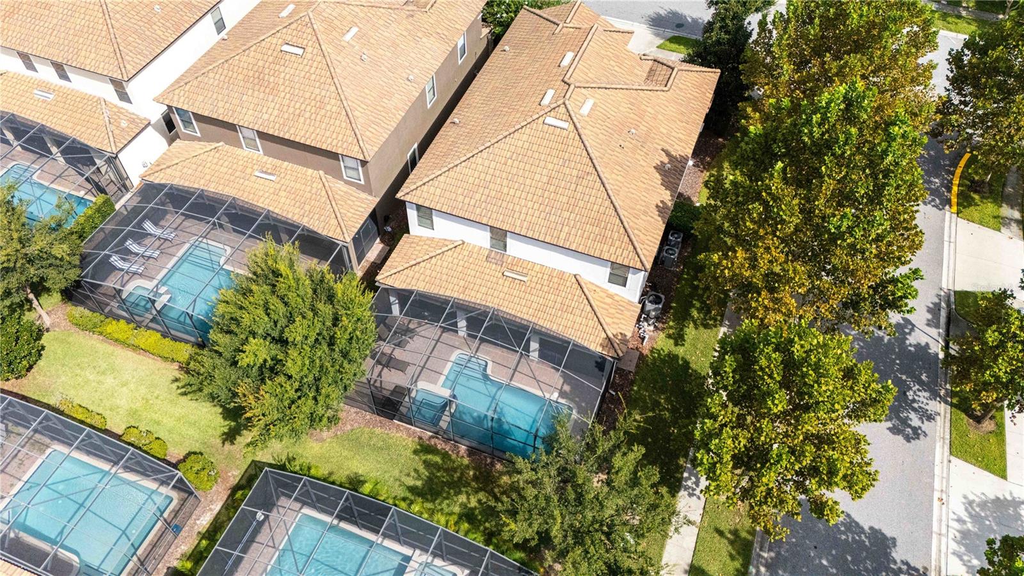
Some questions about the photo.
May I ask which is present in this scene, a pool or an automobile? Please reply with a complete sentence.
Of the two, only a pool appears.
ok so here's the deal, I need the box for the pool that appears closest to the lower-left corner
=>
[0,441,179,576]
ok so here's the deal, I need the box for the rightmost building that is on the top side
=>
[376,0,720,392]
